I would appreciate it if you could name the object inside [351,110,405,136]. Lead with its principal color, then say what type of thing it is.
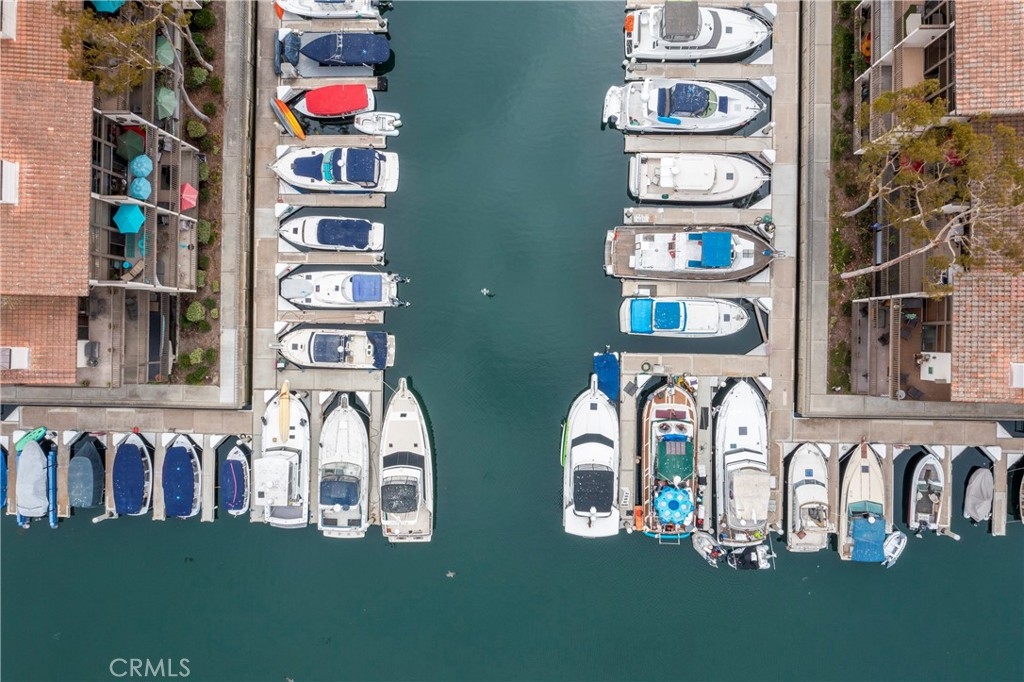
white boat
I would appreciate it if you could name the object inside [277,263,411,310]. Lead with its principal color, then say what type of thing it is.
white boat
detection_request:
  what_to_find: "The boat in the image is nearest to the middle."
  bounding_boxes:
[592,345,621,401]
